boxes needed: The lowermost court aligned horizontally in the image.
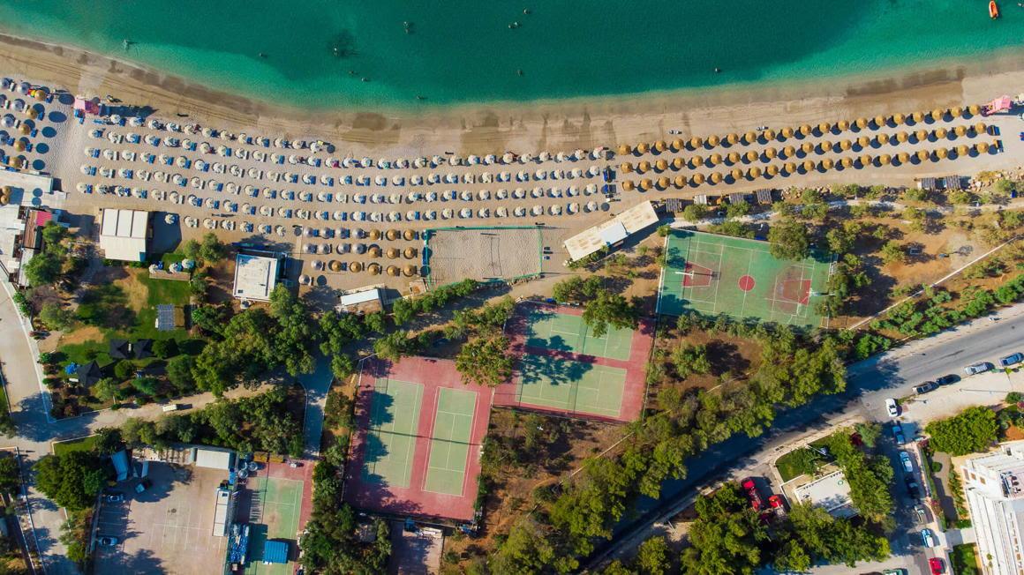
[492,350,642,423]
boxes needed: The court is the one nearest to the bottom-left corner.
[233,461,315,575]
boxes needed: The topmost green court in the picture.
[657,229,834,328]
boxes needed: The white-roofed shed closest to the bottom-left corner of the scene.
[191,447,237,469]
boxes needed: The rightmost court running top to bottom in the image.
[415,360,497,520]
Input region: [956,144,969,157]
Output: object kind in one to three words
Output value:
umbrella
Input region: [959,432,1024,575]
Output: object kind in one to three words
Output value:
building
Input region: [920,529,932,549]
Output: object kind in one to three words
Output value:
vehicle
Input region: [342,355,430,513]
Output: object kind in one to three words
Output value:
tennis court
